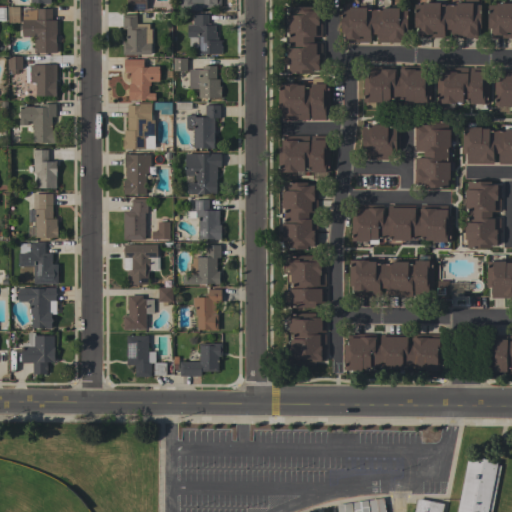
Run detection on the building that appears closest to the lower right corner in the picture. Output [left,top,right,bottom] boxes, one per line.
[459,460,502,512]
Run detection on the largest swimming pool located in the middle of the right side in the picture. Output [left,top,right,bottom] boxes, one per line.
[448,260,475,278]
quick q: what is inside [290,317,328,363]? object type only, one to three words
house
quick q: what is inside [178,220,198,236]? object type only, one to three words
swimming pool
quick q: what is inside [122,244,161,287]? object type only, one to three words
house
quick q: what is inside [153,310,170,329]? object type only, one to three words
swimming pool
